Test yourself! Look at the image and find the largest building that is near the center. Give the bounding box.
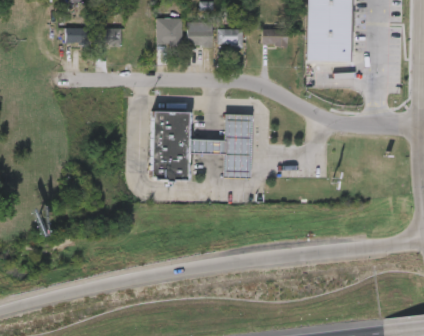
[150,112,192,184]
